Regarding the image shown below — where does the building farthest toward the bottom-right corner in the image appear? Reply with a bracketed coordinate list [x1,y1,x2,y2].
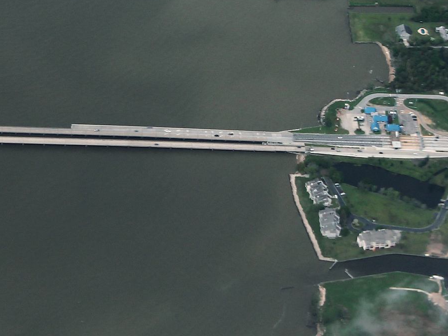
[357,229,401,248]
